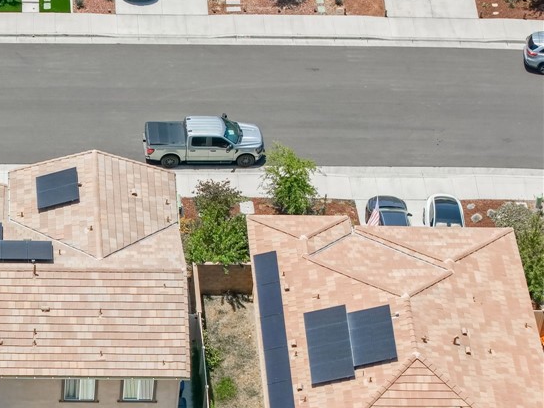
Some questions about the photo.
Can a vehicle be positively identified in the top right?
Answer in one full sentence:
Yes, a vehicle appears in the top right.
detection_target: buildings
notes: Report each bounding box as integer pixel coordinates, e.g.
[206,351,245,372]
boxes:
[0,148,192,408]
[246,214,544,408]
